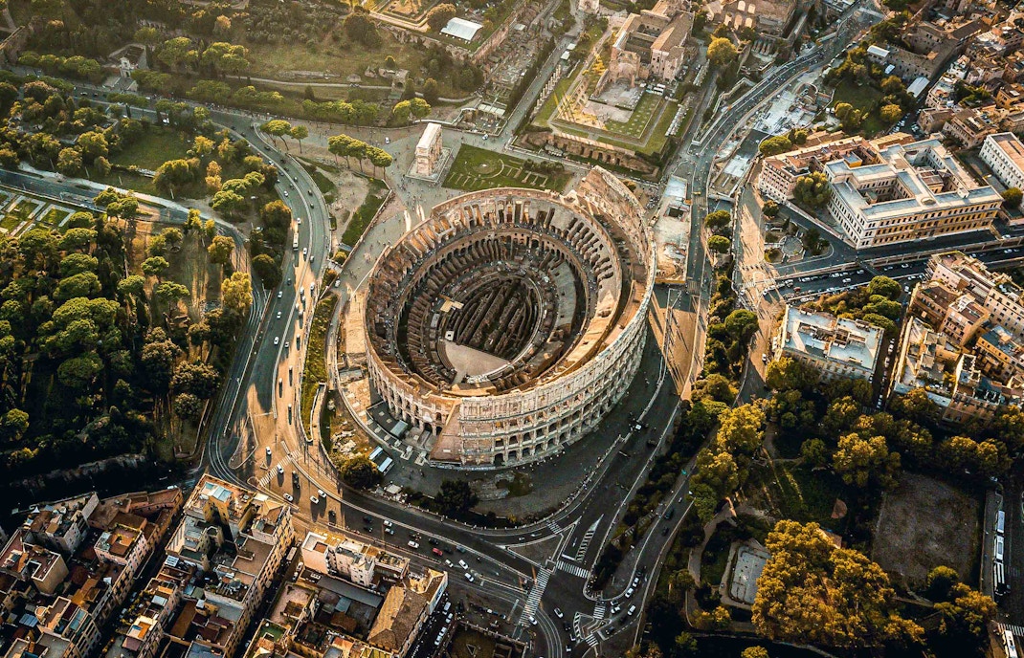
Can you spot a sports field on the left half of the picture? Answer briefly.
No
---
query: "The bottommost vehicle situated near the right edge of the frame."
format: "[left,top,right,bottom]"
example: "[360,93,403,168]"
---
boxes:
[1005,628,1018,657]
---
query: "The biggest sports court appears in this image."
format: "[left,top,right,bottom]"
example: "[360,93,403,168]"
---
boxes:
[723,542,777,606]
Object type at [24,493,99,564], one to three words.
building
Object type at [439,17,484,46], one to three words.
tent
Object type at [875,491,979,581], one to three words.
sports field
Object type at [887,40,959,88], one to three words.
building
